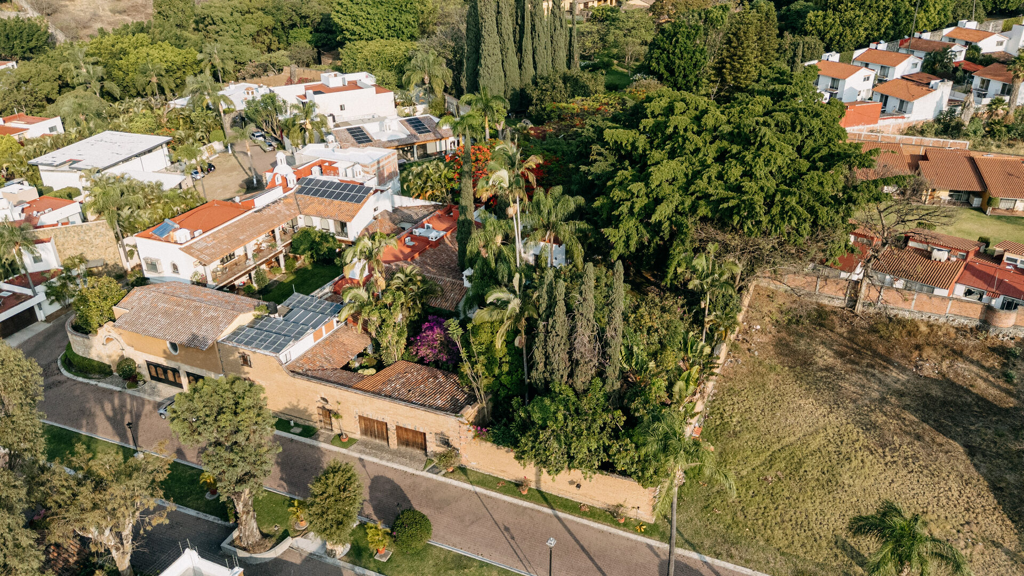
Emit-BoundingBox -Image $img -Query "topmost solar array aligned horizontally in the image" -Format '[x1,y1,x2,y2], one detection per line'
[298,176,372,204]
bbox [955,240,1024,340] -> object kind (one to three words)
house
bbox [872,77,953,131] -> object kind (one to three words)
house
